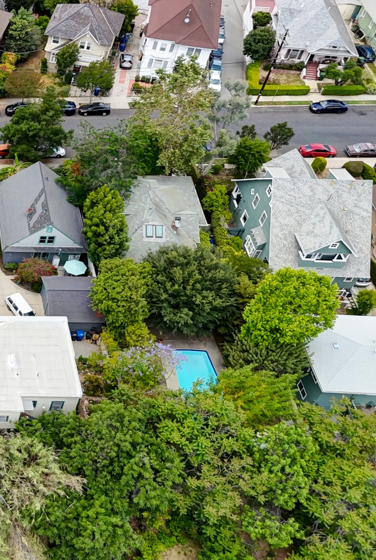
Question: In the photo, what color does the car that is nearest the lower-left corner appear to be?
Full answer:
The car that is nearest the lower-left corner looks white in the image.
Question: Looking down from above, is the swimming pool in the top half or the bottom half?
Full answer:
The swimming pool sits in the bottom half of the picture.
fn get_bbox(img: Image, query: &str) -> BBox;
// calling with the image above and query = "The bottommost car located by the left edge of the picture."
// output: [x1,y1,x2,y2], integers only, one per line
[4,290,36,313]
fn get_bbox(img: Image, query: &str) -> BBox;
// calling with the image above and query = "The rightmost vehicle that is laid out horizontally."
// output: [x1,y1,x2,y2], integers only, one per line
[343,144,376,158]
